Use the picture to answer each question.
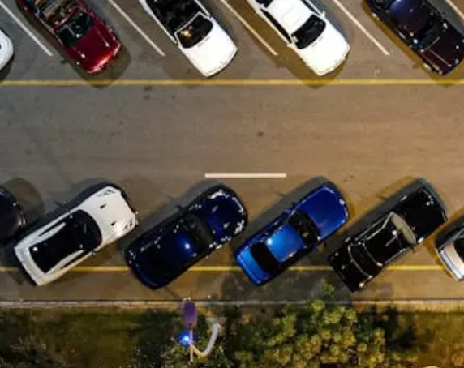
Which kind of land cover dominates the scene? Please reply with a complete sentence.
Most of the picture is covered by paved ground.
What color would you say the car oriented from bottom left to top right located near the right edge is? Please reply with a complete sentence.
The color of the car oriented from bottom left to top right located near the right edge is black.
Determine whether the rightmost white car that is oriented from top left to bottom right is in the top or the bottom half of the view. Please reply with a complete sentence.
The rightmost white car that is oriented from top left to bottom right sits in the top half of the picture.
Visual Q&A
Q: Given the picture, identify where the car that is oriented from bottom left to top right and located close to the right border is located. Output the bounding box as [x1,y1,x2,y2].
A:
[328,185,442,287]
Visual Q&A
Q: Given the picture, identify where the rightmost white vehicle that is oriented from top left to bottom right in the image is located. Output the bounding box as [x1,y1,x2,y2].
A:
[249,0,343,73]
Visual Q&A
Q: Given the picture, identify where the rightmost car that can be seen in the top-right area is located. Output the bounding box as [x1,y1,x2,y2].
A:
[366,0,464,72]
